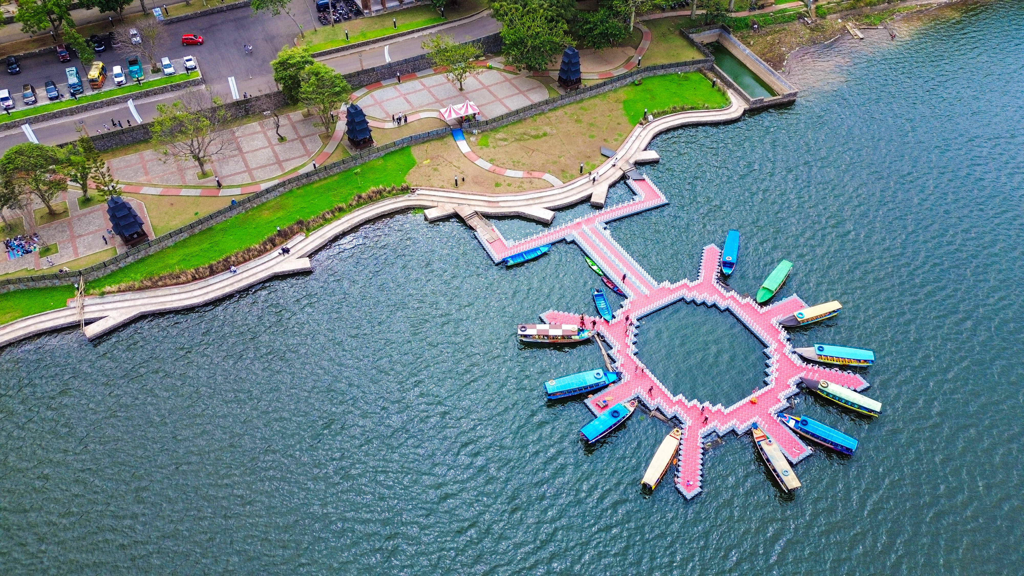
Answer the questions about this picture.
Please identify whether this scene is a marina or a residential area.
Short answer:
marina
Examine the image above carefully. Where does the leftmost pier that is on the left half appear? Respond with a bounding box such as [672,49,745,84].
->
[85,316,141,346]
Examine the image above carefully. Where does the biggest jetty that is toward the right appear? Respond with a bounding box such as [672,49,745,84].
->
[471,169,869,498]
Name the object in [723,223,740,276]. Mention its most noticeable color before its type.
blue boat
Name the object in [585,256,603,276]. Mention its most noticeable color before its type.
green boat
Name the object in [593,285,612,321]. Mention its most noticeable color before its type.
blue boat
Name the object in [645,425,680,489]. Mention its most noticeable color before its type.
white boat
